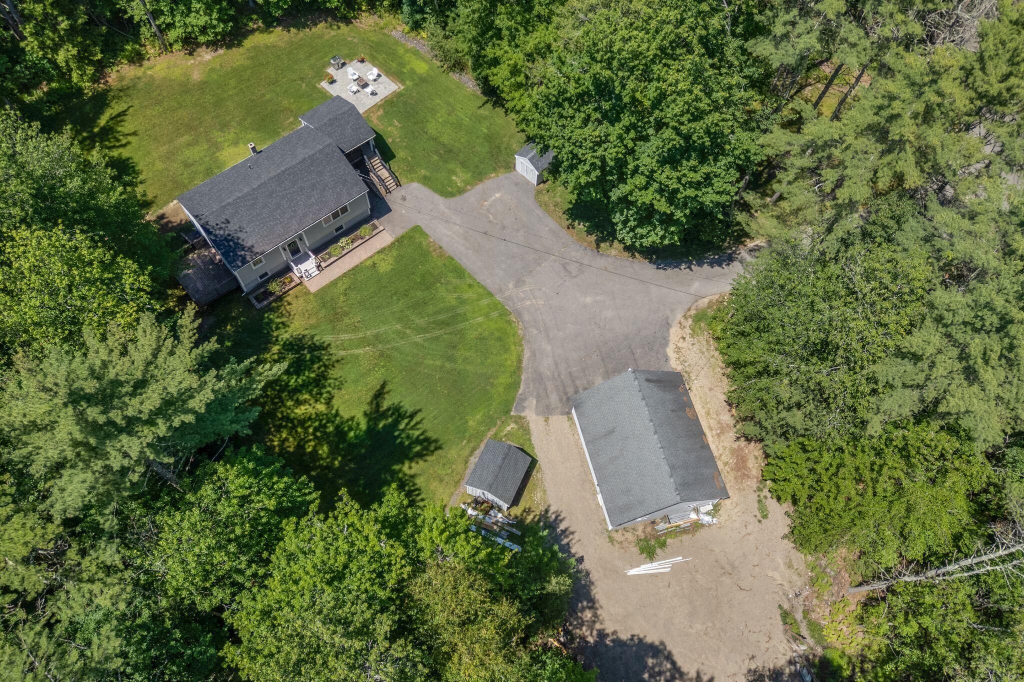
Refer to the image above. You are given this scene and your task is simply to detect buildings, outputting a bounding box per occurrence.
[464,439,532,510]
[176,96,377,302]
[571,368,731,534]
[514,135,563,186]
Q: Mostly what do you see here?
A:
trees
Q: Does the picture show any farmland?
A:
No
